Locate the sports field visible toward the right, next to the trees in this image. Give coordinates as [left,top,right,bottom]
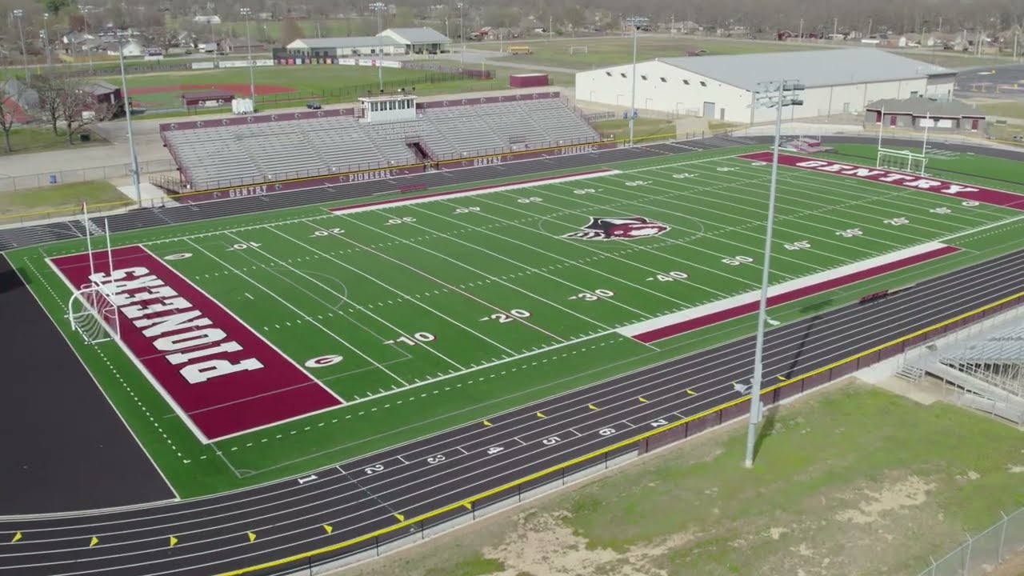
[512,38,852,67]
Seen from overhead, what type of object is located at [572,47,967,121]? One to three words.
building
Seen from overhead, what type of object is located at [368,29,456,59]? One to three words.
building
